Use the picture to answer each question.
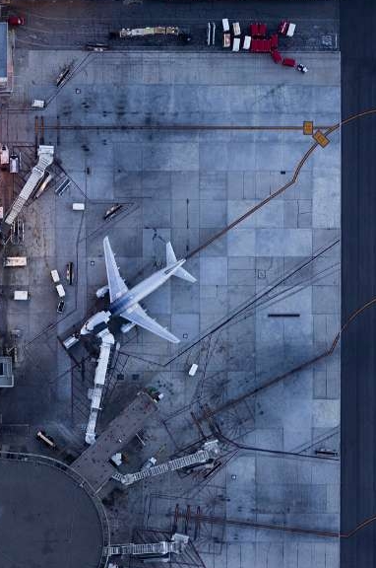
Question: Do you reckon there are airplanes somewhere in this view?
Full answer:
Yes, there's an airplane down there.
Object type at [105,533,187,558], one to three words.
jet bridge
